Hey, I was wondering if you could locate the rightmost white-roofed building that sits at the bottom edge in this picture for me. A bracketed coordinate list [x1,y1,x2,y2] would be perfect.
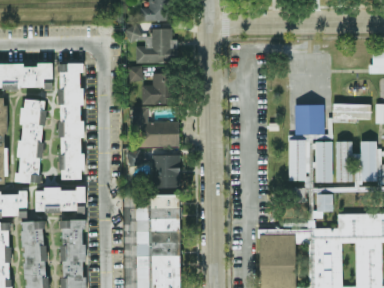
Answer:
[312,214,384,288]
